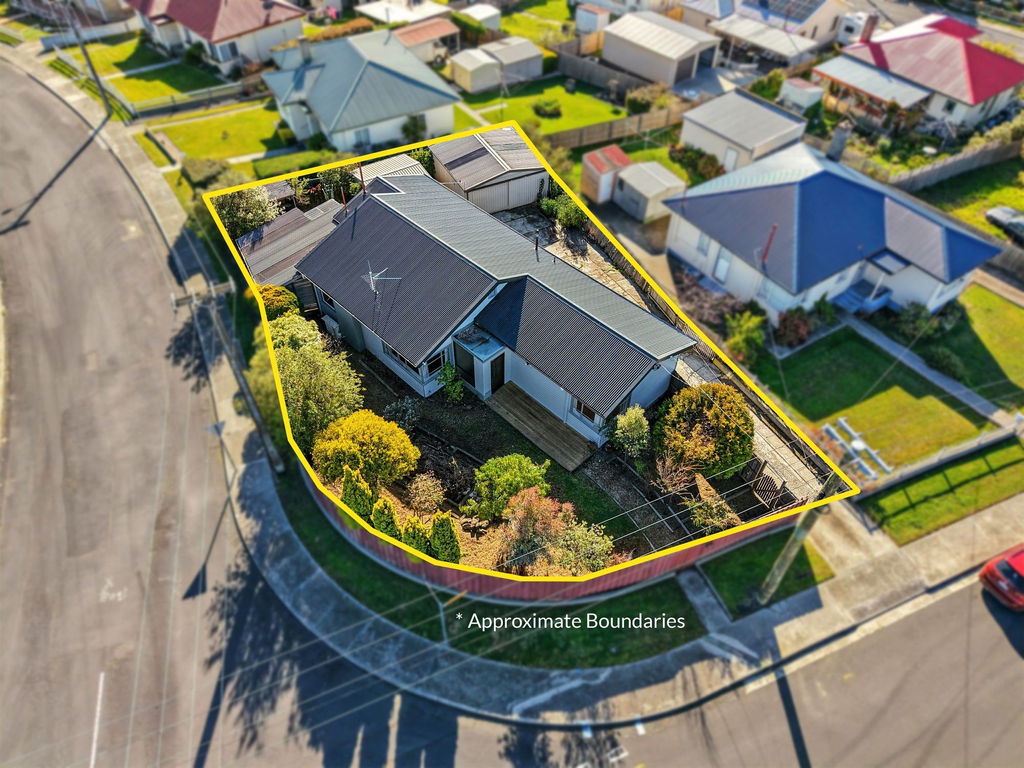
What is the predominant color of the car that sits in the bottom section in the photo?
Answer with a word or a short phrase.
red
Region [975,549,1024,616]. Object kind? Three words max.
car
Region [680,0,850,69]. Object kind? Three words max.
house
